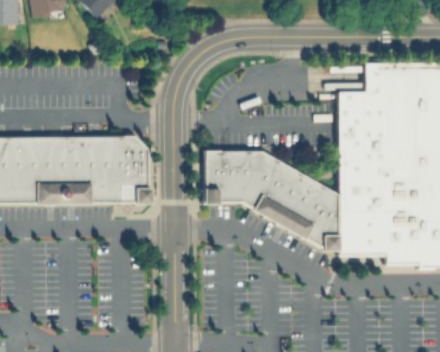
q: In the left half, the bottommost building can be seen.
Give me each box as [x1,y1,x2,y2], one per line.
[0,136,153,204]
